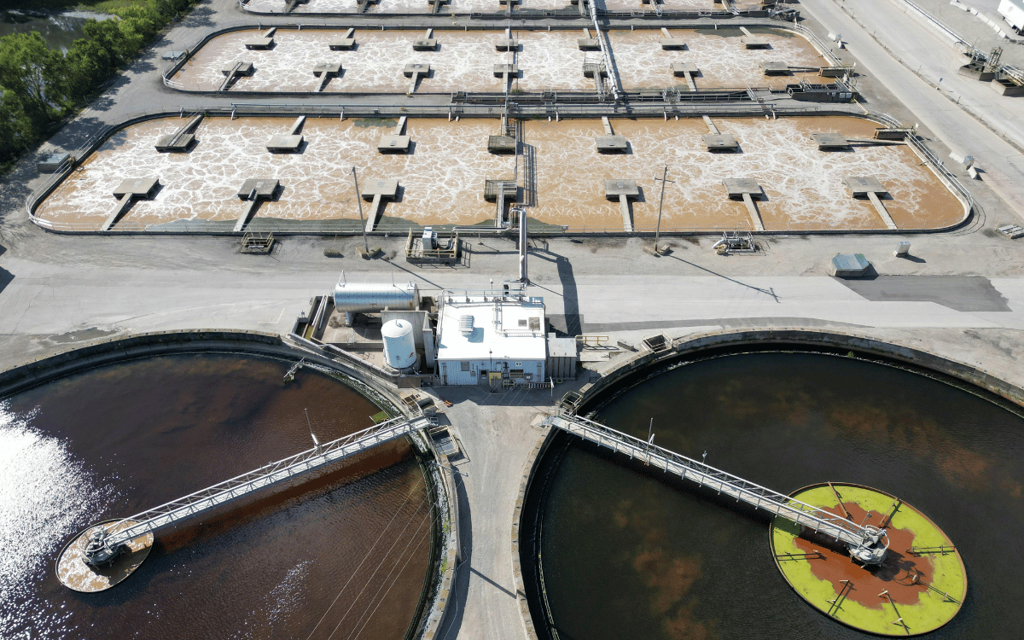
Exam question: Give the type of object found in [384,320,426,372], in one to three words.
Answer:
storage tank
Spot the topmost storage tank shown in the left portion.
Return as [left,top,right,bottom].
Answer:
[333,269,447,324]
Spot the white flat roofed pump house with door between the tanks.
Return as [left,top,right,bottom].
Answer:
[434,292,547,386]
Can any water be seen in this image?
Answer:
Yes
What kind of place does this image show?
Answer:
industrial area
